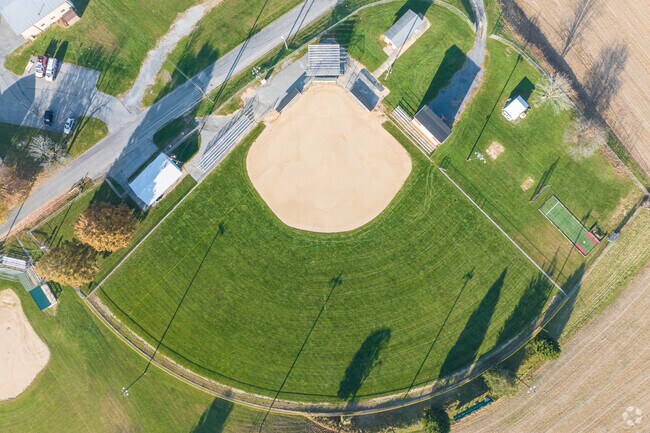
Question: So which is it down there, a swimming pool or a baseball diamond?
baseball diamond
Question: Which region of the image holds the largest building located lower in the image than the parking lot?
left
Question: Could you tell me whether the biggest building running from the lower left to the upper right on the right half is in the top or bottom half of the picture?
top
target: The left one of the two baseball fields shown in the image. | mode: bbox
[0,288,51,403]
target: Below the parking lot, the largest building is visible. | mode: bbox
[129,152,184,205]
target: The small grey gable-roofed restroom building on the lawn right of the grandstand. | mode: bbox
[385,8,423,49]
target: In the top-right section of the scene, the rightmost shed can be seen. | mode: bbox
[501,95,529,121]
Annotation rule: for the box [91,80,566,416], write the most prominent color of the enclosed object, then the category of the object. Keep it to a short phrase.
green baseball field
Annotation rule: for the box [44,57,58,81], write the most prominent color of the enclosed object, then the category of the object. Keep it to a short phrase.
white vehicle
